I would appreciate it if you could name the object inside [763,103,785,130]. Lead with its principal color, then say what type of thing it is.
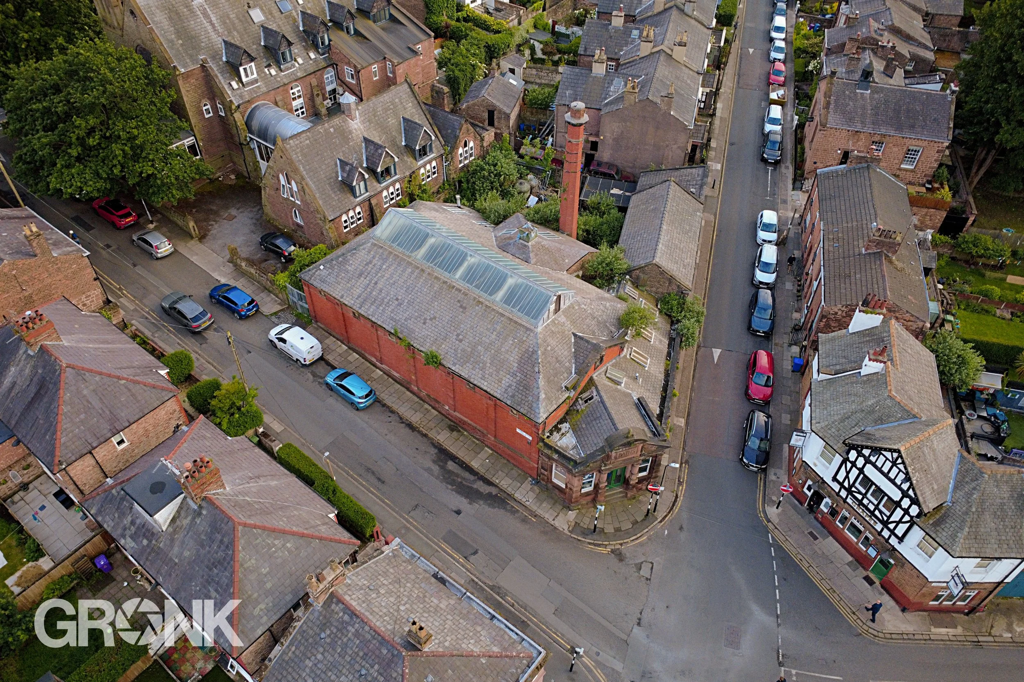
white car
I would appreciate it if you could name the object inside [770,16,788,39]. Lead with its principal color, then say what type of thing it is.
white car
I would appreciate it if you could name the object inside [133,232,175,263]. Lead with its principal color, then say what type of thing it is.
gray car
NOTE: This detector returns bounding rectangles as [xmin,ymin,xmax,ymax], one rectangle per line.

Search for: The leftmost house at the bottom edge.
[76,414,361,682]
